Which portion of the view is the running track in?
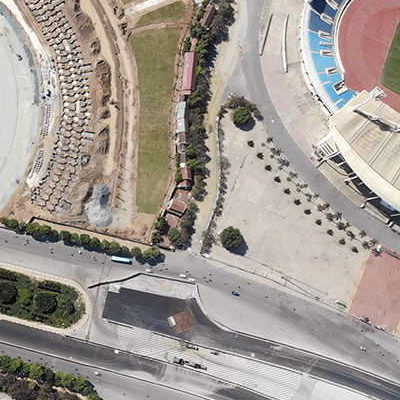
top right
